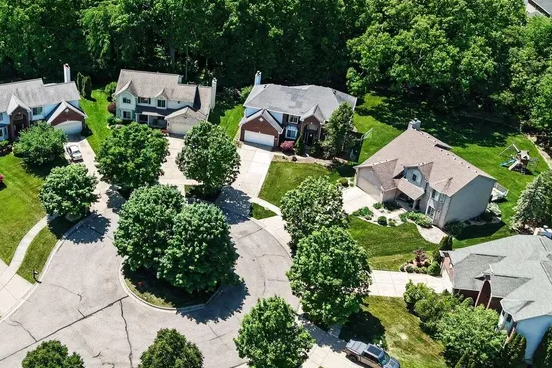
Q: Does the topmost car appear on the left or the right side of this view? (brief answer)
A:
left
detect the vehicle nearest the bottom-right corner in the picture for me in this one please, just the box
[345,339,404,368]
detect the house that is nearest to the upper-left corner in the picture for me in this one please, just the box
[0,58,92,142]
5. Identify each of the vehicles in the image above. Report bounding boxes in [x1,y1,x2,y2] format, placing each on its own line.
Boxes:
[65,139,85,159]
[345,339,404,368]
